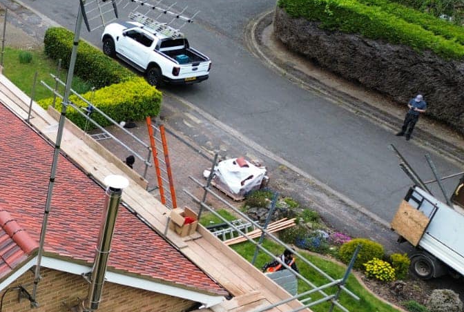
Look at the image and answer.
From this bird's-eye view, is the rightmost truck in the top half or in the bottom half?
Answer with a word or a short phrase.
bottom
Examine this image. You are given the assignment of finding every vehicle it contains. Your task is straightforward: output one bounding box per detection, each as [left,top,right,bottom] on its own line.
[100,19,210,85]
[387,177,464,274]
